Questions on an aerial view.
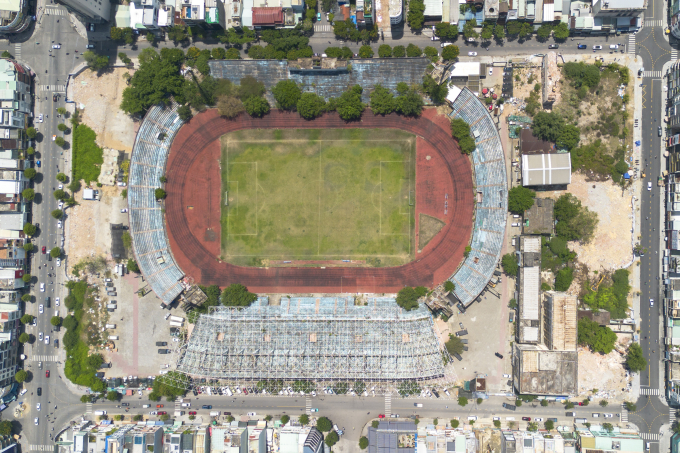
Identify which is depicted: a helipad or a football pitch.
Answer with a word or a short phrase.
football pitch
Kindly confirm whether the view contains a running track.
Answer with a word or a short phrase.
Yes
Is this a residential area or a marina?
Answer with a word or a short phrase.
residential area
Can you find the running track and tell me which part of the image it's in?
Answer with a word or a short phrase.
center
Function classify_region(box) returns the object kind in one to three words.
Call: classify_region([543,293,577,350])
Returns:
house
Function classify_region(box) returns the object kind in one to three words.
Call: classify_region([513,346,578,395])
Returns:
house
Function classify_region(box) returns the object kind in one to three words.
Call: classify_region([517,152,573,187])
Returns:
building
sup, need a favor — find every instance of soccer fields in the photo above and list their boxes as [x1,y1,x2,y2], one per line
[221,128,416,267]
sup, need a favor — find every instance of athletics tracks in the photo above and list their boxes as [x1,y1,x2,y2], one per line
[165,108,475,293]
